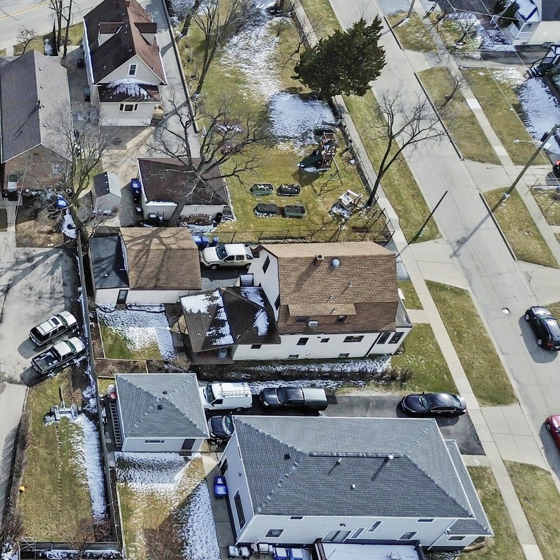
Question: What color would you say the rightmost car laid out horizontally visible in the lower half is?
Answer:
black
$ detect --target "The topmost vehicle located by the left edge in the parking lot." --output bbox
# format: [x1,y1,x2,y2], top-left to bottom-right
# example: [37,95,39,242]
[24,310,82,351]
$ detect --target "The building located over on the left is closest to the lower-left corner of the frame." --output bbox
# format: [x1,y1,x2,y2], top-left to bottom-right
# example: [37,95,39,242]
[113,370,213,459]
